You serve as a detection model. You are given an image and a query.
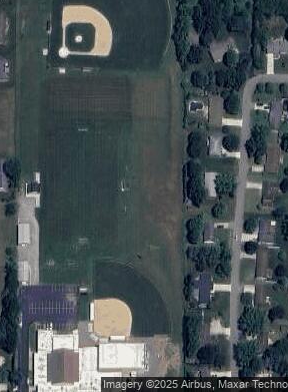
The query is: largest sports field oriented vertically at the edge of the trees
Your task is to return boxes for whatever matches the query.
[40,75,136,291]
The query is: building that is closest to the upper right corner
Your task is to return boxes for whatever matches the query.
[267,38,288,59]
